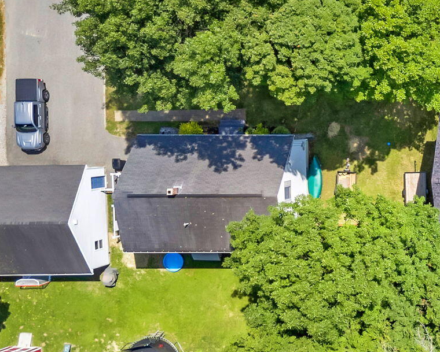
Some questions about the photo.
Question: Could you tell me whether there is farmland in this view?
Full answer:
No, the scene doesn't show any farmland.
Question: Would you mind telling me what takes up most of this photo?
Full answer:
The bulk of the photo consists of trees.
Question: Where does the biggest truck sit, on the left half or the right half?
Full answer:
You can find the biggest truck on the left side of the picture.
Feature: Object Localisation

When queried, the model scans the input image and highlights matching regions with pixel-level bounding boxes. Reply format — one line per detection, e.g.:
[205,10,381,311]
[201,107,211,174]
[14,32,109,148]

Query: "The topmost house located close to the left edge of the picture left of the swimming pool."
[0,163,112,277]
